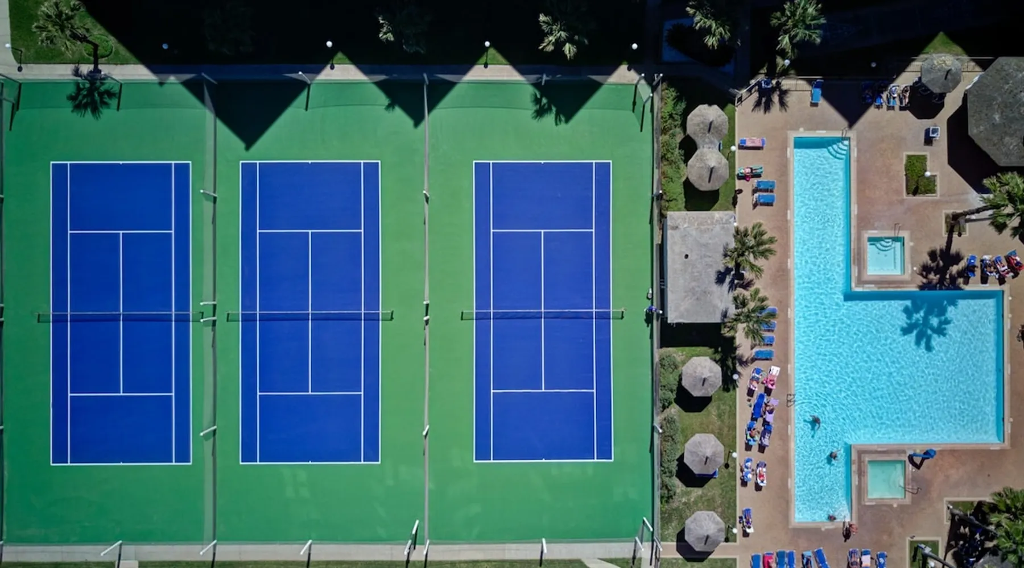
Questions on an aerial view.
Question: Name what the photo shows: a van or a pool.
pool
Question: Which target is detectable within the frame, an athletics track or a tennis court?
tennis court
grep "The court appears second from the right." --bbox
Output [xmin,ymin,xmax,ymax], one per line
[216,78,428,544]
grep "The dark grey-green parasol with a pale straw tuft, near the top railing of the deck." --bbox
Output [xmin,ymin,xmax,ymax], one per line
[923,55,960,93]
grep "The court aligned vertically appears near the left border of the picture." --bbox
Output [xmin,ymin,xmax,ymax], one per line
[3,78,216,543]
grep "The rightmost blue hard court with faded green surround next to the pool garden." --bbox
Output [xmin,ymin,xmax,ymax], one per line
[428,78,654,543]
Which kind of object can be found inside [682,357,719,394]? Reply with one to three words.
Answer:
umbrella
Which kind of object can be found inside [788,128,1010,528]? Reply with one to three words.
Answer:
swimming pool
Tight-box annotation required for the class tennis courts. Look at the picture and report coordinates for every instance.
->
[216,78,428,544]
[428,78,654,543]
[3,78,216,543]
